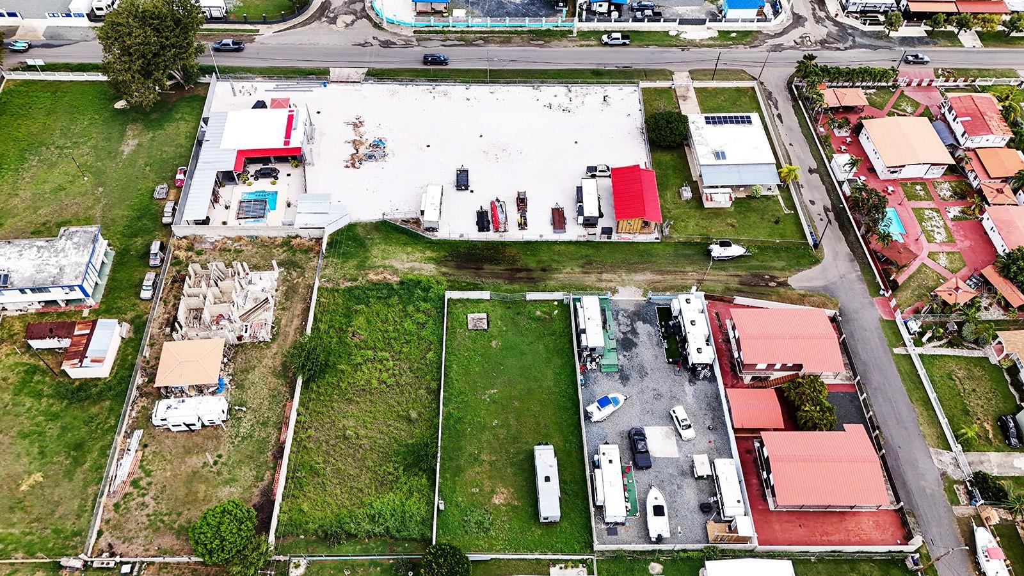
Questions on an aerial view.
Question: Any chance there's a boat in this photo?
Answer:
Yes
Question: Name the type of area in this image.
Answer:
residential area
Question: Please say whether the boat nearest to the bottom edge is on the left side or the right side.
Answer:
right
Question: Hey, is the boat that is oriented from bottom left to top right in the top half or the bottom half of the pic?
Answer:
bottom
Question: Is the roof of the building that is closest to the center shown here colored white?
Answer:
No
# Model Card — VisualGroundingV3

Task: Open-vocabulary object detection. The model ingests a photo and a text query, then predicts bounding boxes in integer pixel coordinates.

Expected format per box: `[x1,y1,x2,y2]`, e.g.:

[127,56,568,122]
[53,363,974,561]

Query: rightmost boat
[977,525,1016,576]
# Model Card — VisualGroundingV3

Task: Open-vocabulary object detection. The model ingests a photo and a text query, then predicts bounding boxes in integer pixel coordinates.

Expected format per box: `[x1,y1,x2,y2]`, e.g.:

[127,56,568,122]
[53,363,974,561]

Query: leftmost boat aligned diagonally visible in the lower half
[583,394,625,425]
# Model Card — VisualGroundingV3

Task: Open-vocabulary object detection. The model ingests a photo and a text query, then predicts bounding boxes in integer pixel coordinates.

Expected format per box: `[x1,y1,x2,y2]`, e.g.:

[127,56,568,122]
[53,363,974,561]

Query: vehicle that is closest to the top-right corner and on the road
[902,52,932,66]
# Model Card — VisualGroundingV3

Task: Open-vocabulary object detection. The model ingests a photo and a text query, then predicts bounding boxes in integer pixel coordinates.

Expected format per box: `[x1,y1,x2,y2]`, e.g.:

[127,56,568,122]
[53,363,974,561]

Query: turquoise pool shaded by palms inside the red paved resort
[879,206,908,242]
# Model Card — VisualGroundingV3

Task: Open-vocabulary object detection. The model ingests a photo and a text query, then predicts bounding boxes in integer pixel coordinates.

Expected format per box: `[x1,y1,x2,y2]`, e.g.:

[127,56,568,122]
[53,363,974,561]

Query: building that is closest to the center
[612,162,661,234]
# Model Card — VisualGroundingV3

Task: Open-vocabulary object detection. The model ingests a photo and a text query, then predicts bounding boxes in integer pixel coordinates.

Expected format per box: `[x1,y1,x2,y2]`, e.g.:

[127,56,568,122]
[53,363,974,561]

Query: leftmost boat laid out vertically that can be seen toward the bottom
[645,486,670,542]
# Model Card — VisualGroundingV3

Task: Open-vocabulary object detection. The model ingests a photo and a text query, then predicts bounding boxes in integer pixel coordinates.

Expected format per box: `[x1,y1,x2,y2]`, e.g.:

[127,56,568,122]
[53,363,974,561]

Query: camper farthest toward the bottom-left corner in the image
[153,395,233,431]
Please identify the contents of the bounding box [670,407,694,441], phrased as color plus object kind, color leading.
white car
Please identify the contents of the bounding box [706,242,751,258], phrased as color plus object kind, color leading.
white boat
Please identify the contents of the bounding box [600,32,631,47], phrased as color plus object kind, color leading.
white vehicle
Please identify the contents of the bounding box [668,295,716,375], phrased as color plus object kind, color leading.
white camper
